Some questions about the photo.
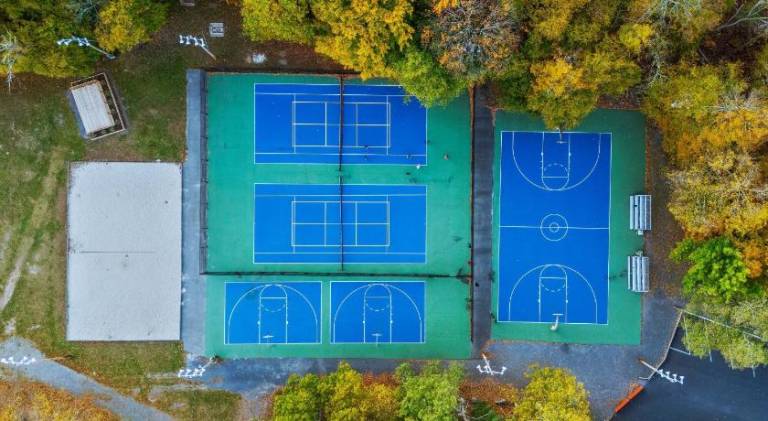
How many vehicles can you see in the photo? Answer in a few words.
none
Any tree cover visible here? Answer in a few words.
Yes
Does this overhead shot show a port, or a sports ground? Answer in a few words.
sports ground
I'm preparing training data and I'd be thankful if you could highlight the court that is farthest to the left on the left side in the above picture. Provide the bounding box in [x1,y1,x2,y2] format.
[66,162,182,341]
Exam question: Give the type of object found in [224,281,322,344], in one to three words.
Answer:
basketball court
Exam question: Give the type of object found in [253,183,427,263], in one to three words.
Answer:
tennis court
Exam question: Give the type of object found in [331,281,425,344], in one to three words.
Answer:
basketball court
